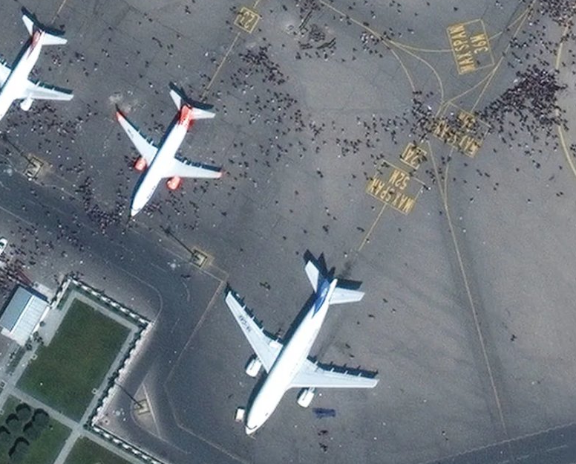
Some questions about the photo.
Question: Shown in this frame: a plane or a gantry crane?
plane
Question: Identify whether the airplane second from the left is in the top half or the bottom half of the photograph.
top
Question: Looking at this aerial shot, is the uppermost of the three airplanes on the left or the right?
left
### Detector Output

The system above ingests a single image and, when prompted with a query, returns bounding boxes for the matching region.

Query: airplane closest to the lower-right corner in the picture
[227,261,377,435]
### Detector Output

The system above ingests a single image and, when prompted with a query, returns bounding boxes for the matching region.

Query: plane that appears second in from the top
[115,87,220,217]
